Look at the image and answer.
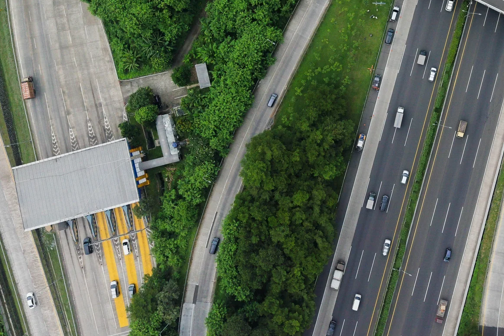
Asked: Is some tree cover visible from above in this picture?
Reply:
Yes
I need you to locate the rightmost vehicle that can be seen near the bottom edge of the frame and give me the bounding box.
[434,298,449,324]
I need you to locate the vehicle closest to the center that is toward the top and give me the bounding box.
[266,92,279,108]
